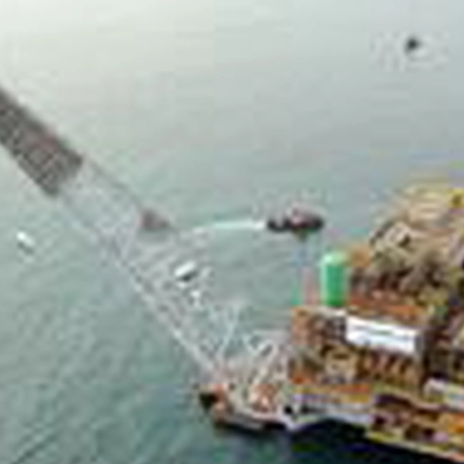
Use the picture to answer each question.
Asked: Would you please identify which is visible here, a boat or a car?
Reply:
boat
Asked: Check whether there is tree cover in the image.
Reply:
No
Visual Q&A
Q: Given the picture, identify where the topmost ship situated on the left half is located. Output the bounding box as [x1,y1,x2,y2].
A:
[136,203,172,227]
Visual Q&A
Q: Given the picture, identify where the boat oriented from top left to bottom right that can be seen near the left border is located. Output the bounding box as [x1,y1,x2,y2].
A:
[16,230,33,249]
